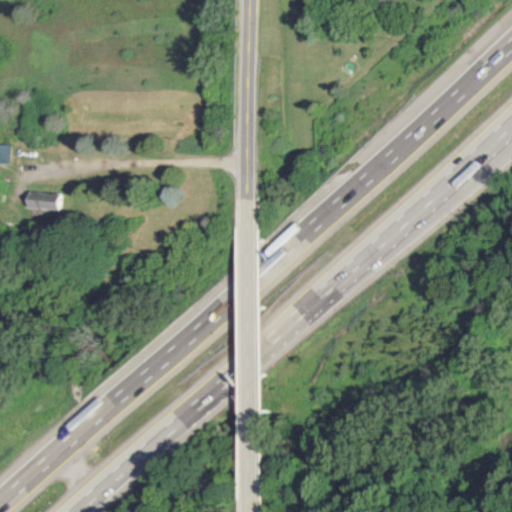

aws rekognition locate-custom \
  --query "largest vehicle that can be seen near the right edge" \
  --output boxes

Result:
[454,152,488,183]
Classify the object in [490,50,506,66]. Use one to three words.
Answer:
vehicle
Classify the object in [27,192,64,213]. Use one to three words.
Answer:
house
